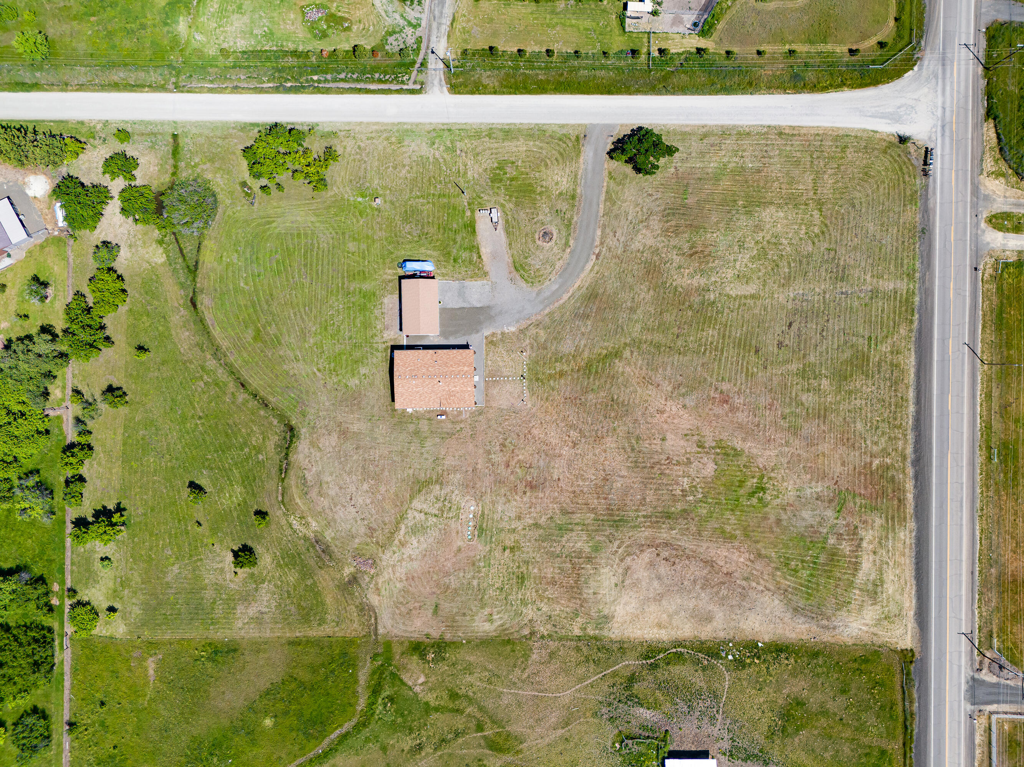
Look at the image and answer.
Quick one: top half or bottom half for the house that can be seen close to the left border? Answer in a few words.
top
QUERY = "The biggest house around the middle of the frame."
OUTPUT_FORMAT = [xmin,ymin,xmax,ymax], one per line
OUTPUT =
[394,349,475,410]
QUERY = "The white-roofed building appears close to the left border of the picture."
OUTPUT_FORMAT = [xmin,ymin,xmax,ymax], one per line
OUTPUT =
[0,197,34,256]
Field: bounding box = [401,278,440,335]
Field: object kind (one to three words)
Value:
building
